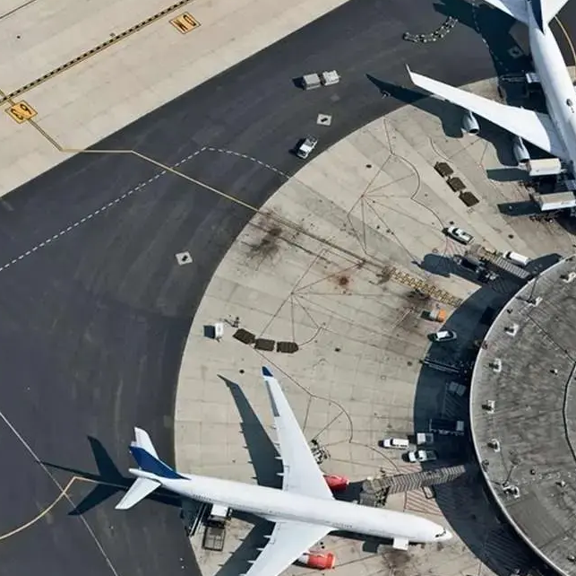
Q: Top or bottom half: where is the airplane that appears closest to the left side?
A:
bottom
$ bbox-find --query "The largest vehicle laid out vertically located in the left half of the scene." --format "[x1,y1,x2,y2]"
[201,506,230,556]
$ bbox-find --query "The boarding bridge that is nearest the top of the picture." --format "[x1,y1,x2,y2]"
[459,244,533,286]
